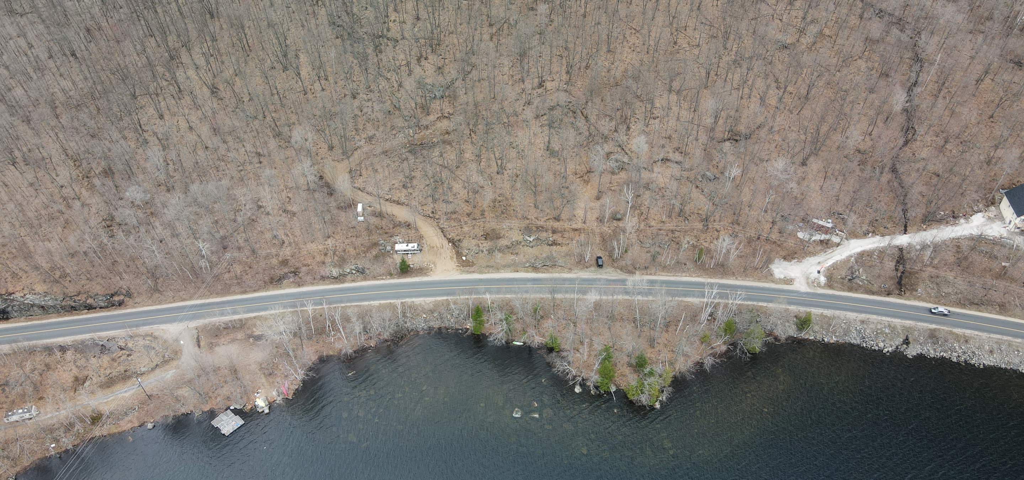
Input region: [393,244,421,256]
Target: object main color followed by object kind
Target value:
white vehicle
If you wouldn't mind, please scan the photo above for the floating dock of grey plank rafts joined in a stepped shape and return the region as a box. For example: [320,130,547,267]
[211,410,245,437]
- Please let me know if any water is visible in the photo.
Yes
